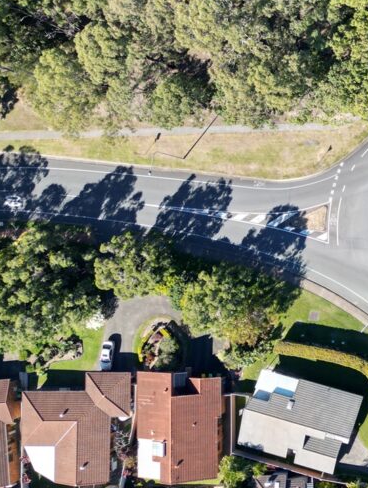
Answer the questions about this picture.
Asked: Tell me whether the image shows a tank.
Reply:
No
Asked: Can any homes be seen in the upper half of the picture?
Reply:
No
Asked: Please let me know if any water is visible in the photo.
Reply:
No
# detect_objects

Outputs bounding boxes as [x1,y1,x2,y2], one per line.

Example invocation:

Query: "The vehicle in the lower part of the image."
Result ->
[99,340,117,370]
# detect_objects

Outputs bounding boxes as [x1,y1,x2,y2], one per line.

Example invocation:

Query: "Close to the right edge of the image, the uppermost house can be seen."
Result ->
[238,370,362,474]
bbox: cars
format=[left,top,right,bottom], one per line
[99,340,117,370]
[0,195,29,209]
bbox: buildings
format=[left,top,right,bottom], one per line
[0,379,21,486]
[238,370,362,474]
[137,372,224,485]
[253,472,313,488]
[22,371,136,485]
